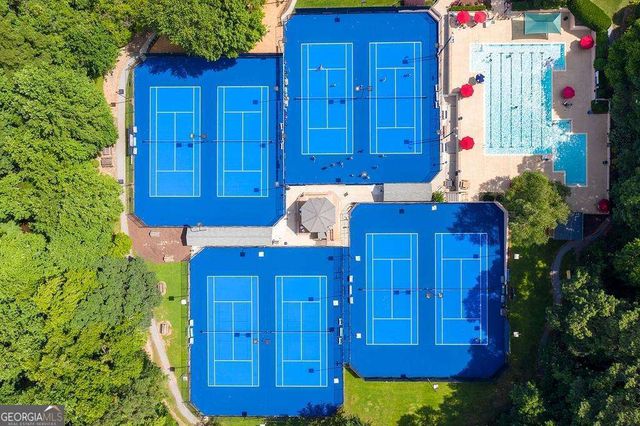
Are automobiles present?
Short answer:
No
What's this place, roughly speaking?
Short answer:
sports ground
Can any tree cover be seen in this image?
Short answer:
Yes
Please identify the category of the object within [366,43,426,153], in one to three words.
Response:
tennis court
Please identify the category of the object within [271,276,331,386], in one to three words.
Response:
tennis court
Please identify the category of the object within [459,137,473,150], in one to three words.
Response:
umbrella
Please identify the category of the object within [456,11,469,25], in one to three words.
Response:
umbrella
